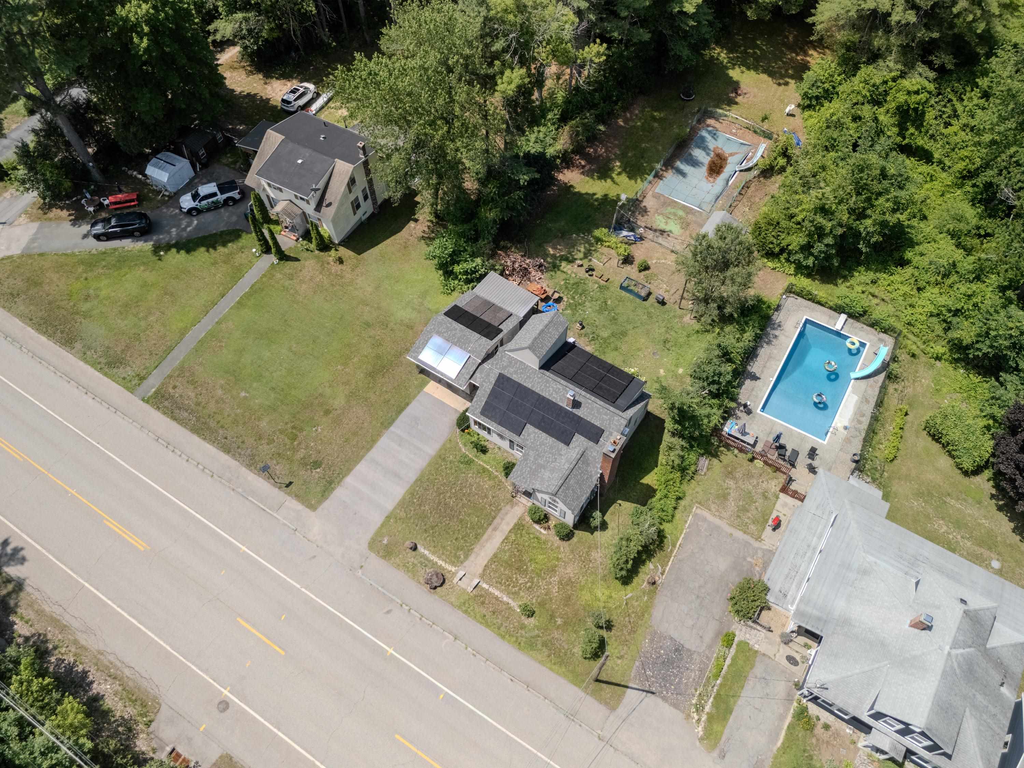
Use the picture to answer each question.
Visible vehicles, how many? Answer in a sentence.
Altogether the scene contains 3 vehicles.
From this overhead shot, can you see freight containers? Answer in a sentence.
No, no freight container is visible in the scene.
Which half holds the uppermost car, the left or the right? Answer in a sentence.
The uppermost car sits on the left side.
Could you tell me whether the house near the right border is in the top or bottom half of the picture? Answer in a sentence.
Seen from above, the house near the right border lies in the bottom half of the view.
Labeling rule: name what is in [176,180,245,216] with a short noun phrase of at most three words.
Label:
truck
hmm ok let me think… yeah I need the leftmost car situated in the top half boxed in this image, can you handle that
[86,209,153,243]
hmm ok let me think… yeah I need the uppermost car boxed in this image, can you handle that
[275,81,325,116]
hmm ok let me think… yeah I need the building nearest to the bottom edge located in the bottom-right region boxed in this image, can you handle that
[762,467,1024,768]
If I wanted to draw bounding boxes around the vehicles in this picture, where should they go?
[86,209,153,243]
[176,180,245,216]
[275,81,325,116]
